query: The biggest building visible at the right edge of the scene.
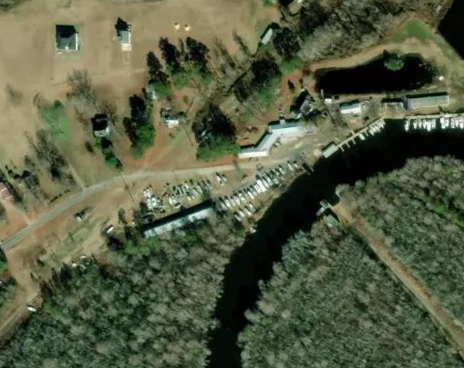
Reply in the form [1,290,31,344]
[405,92,450,111]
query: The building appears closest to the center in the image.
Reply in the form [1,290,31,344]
[238,147,269,161]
